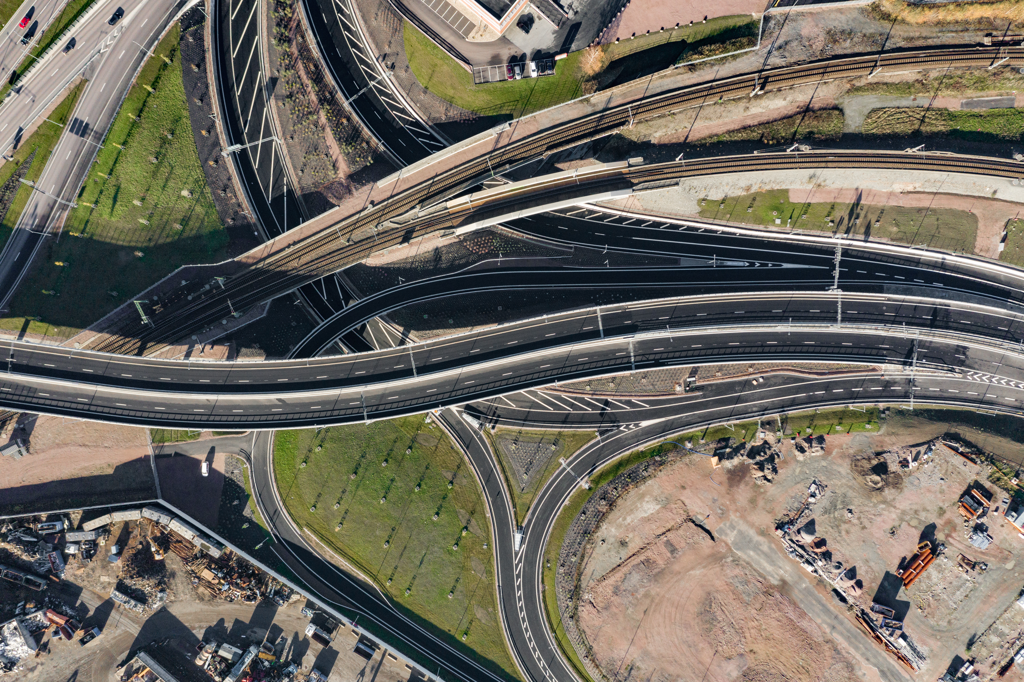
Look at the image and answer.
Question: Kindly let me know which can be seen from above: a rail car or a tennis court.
rail car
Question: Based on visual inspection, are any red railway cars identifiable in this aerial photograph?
No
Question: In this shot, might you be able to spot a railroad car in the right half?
No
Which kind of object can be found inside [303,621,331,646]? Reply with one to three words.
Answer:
truck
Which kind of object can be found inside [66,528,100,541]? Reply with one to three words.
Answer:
rail car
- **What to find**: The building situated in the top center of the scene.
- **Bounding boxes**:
[453,0,530,35]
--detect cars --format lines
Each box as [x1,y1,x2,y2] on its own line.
[507,64,514,79]
[546,59,553,73]
[20,32,31,45]
[18,14,29,29]
[538,59,545,74]
[514,65,521,79]
[530,61,537,76]
[107,10,121,24]
[60,42,73,55]
[516,20,530,34]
